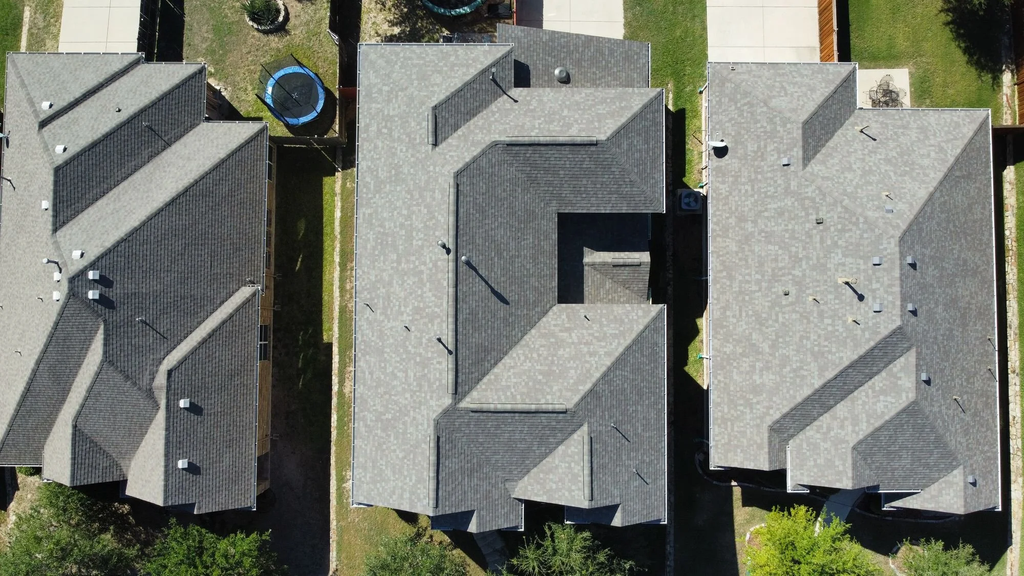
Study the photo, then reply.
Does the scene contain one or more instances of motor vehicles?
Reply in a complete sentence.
No, there is no motor vehicle in the image.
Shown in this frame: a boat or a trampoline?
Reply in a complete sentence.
Of the two, only a trampoline appears.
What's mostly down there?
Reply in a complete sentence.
For the most part, this view shows buildings.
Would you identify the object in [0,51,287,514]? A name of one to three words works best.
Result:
house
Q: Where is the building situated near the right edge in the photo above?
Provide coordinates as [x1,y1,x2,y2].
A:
[694,61,1002,514]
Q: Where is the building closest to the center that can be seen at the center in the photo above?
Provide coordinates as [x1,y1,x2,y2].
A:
[351,22,667,533]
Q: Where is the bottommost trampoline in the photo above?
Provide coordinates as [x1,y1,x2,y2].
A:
[253,54,330,130]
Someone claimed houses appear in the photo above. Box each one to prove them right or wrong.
[351,22,667,533]
[0,51,287,514]
[694,61,1002,514]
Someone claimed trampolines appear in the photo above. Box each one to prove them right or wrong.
[253,54,330,130]
[426,0,483,21]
